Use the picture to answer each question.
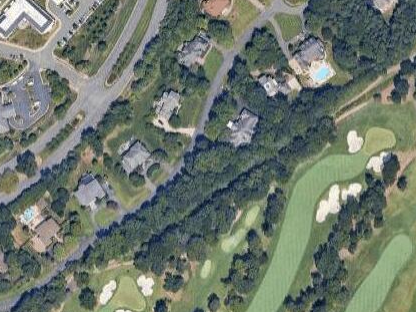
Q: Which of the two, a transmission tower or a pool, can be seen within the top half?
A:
pool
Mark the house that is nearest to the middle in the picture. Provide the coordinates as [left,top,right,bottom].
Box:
[228,110,262,145]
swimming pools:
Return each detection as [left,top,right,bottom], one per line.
[304,60,336,88]
[20,206,45,231]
